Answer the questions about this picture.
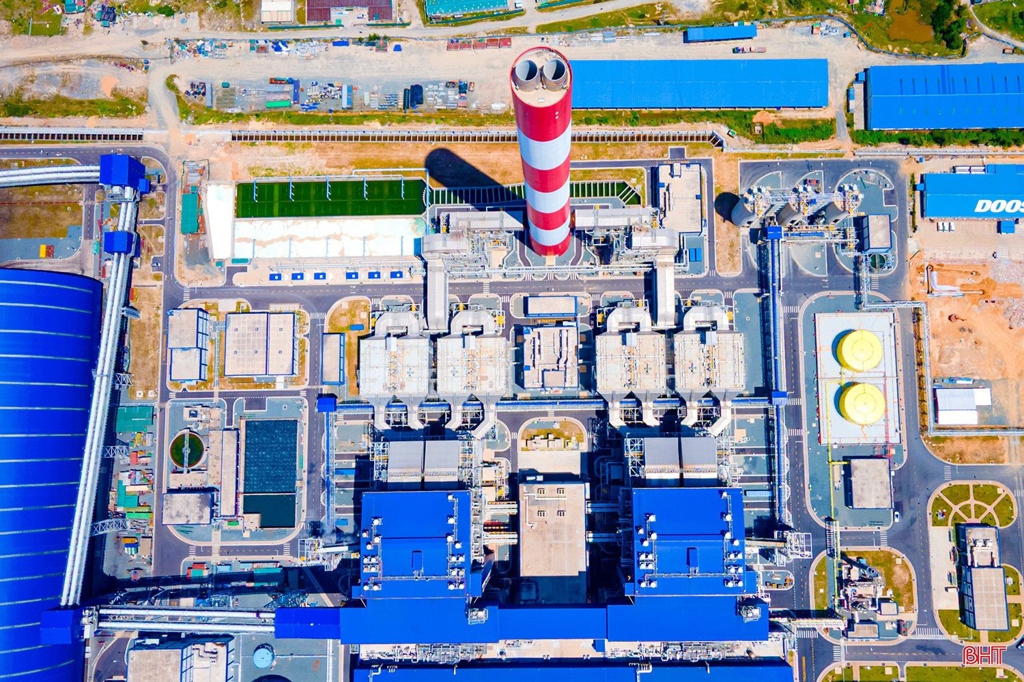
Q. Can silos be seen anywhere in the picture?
Yes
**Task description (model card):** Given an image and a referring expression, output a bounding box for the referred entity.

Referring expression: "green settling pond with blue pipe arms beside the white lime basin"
[236,167,430,235]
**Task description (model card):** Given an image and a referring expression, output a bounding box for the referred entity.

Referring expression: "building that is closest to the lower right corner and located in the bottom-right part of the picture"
[960,565,1009,630]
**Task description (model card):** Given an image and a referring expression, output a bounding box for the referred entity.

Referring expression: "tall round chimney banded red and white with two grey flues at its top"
[511,47,572,258]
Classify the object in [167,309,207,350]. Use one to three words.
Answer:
building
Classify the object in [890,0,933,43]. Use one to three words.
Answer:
pond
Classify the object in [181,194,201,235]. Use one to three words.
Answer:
shed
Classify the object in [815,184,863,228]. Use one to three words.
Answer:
silo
